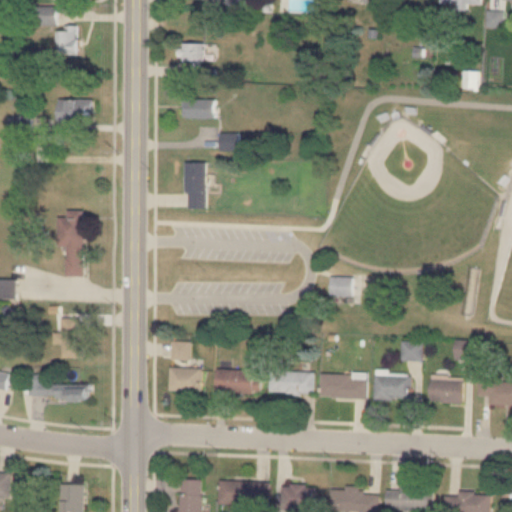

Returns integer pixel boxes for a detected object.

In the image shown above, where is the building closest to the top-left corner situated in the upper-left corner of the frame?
[34,6,57,26]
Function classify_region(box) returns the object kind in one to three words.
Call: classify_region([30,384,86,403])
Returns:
house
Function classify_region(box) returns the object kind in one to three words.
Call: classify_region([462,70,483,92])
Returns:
barn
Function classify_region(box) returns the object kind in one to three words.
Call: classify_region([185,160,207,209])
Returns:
house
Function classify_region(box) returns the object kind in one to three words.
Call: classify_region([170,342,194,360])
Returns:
building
